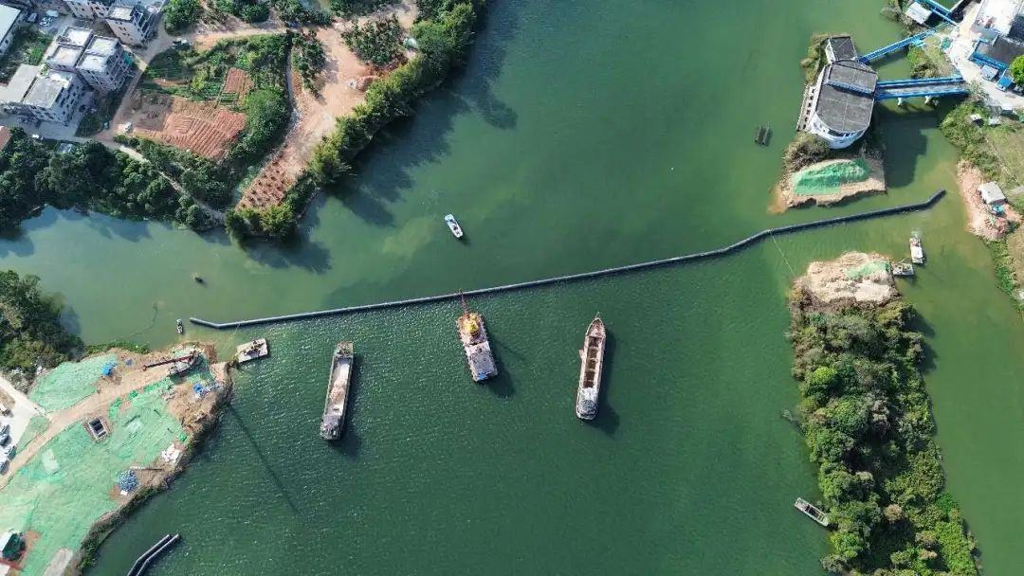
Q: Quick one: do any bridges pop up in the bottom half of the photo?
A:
No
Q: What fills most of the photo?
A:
water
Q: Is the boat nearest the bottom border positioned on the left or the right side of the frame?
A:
right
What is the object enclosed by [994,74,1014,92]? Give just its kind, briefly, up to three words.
vehicle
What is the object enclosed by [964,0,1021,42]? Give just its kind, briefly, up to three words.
building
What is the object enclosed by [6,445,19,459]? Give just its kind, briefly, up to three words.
vehicle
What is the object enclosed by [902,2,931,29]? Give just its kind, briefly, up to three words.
shed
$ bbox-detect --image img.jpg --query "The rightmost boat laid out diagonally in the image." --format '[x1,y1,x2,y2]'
[794,498,826,528]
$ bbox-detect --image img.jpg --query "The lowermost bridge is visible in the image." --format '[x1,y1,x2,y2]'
[874,77,968,109]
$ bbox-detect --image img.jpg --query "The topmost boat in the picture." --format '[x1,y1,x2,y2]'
[446,214,463,238]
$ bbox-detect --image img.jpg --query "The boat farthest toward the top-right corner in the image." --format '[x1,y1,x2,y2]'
[910,237,926,264]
